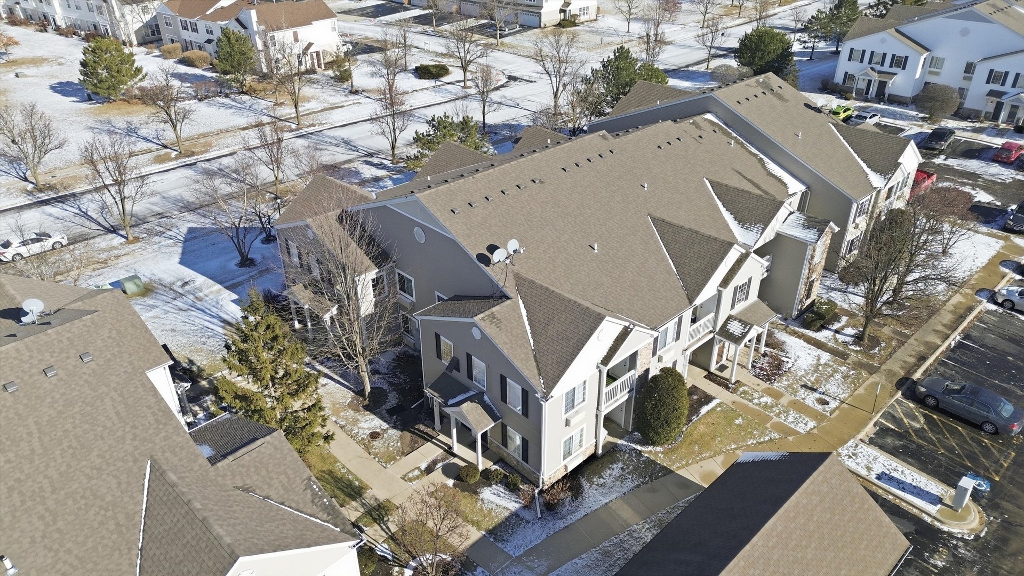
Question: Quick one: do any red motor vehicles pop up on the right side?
Yes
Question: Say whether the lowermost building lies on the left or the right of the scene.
right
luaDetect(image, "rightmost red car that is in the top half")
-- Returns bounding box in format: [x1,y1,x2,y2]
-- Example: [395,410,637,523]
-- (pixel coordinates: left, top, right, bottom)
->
[997,139,1024,162]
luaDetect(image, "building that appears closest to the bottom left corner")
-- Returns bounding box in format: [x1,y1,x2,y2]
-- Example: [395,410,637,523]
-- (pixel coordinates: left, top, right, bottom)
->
[0,268,373,576]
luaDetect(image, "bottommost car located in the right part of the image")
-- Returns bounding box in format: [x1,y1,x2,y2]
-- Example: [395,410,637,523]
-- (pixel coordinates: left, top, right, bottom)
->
[921,380,1024,438]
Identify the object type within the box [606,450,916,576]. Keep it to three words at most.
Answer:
building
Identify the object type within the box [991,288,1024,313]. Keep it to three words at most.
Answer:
car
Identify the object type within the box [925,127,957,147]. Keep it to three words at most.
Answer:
car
